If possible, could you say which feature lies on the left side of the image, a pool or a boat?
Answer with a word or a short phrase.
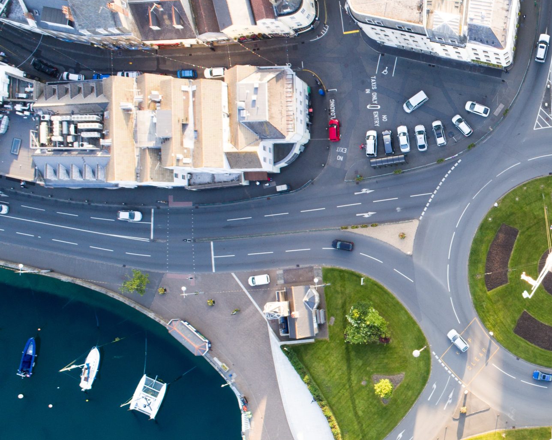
boat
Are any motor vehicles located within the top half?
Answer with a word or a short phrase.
Yes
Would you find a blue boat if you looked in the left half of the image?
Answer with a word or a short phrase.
Yes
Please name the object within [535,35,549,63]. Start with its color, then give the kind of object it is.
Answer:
white vehicle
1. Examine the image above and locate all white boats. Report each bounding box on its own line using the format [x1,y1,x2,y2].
[62,348,99,391]
[122,375,167,420]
